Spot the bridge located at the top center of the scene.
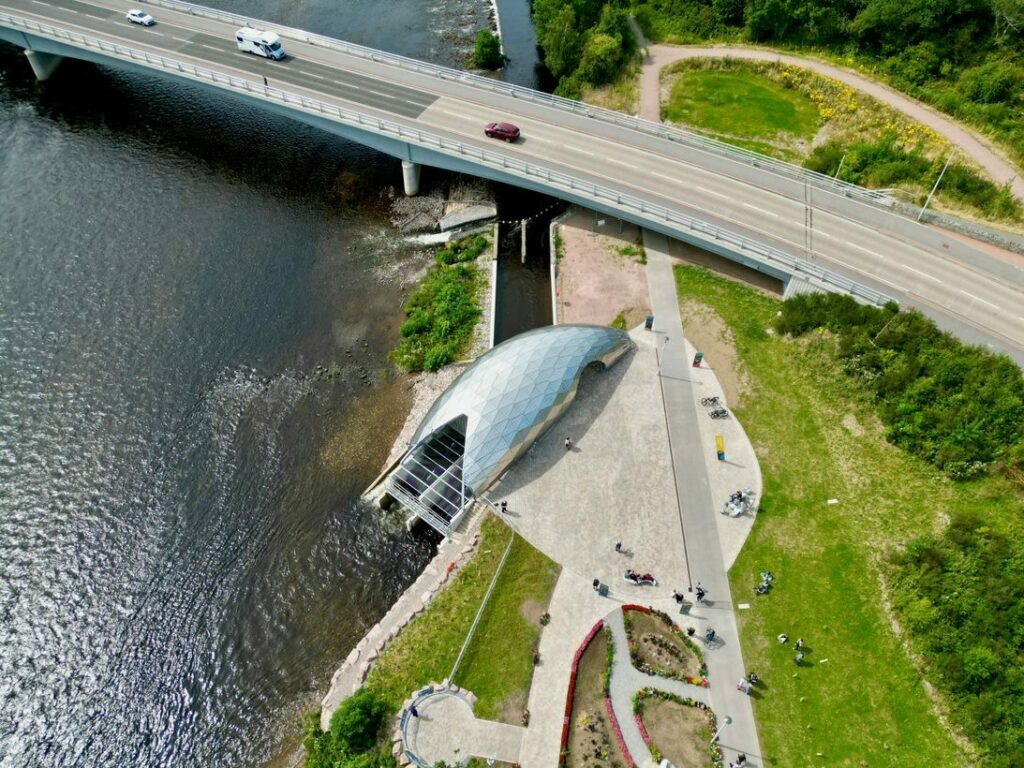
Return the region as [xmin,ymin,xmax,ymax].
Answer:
[0,0,898,314]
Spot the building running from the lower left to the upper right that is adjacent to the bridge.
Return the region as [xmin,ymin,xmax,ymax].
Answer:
[381,326,628,551]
